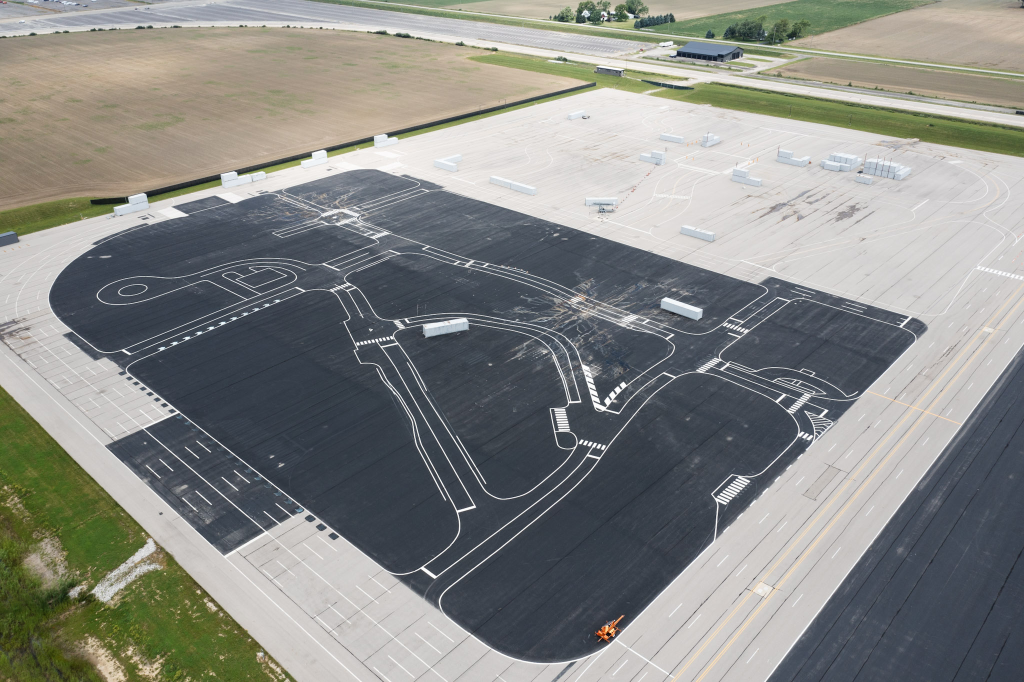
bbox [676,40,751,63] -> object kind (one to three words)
barn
